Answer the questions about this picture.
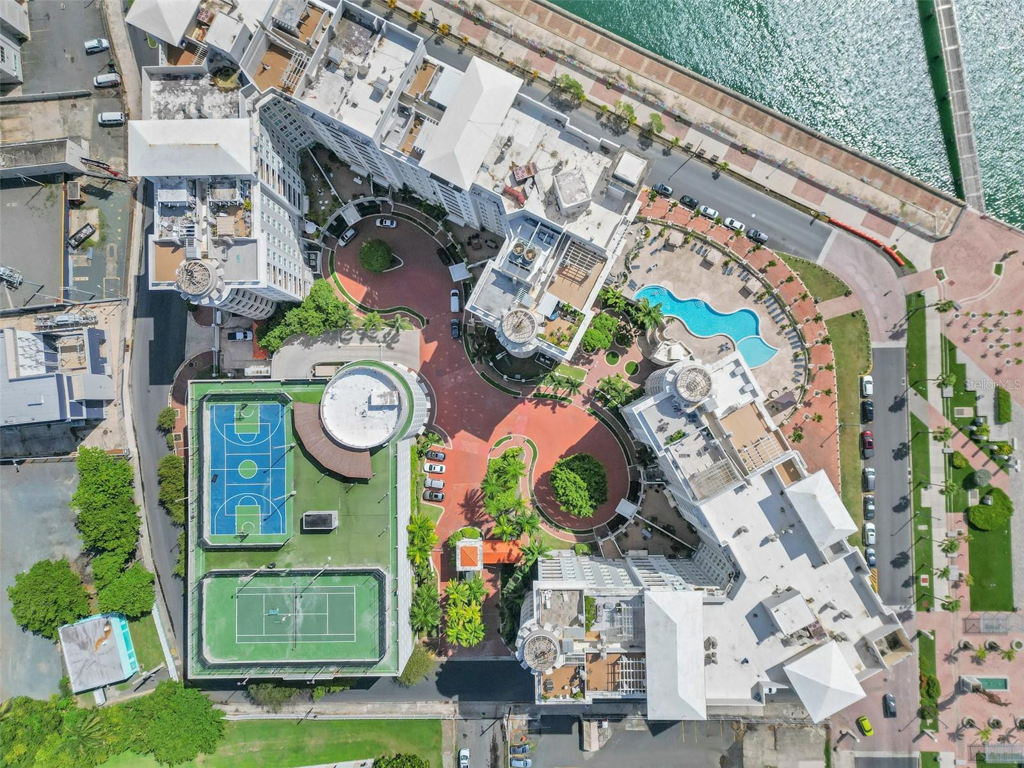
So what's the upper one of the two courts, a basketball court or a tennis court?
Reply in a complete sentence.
From above, the upper one of the two courts can be identified as a basketball court.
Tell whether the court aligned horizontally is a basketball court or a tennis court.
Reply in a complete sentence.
The court aligned horizontally can be classified as a tennis court.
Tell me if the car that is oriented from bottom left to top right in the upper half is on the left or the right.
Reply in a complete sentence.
You can find the car that is oriented from bottom left to top right in the upper half on the left side of the picture.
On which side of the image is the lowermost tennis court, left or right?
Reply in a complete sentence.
It is on the left.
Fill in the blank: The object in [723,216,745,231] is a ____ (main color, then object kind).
white car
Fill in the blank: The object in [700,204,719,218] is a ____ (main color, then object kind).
white car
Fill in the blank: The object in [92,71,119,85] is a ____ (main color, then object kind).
white vehicle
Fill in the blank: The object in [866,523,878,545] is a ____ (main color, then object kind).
white vehicle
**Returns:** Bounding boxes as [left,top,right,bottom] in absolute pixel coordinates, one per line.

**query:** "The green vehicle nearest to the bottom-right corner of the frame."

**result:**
[858,718,873,737]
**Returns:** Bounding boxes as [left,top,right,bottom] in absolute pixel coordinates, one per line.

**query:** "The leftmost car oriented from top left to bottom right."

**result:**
[435,244,452,266]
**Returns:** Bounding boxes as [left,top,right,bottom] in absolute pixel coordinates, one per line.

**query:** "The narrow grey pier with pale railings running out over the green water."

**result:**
[925,0,984,212]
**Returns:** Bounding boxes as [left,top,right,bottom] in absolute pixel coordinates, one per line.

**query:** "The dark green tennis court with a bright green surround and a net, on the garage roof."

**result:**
[204,576,382,663]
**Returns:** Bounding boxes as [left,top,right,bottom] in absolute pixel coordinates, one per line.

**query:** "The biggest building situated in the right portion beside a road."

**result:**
[508,348,915,722]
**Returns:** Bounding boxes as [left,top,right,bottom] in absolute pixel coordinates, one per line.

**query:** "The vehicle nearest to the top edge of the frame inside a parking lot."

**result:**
[82,37,107,51]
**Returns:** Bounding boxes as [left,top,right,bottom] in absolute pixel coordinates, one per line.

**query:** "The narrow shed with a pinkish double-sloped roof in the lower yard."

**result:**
[582,712,599,751]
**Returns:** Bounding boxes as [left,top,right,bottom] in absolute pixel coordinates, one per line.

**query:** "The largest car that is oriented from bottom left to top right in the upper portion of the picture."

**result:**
[336,226,356,246]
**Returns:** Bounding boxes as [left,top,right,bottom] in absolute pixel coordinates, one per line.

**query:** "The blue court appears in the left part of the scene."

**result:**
[204,401,287,544]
